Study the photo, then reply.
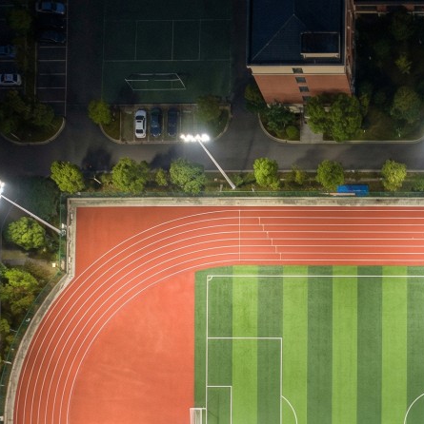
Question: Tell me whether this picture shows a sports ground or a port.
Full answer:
The picture captures a sports ground.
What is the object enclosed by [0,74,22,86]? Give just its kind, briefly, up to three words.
vehicle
